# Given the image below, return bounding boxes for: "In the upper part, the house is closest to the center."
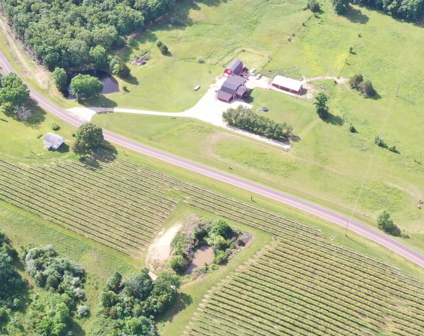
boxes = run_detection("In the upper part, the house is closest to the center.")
[217,76,248,102]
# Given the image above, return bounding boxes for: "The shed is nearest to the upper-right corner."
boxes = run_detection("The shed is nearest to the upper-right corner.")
[271,75,305,94]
